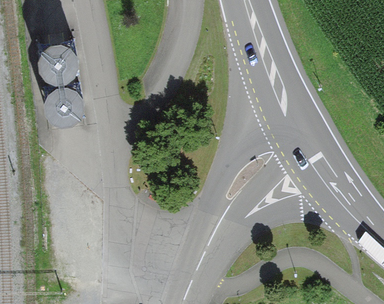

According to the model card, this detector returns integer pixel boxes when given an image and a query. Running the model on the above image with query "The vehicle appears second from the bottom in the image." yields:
[292,146,307,170]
